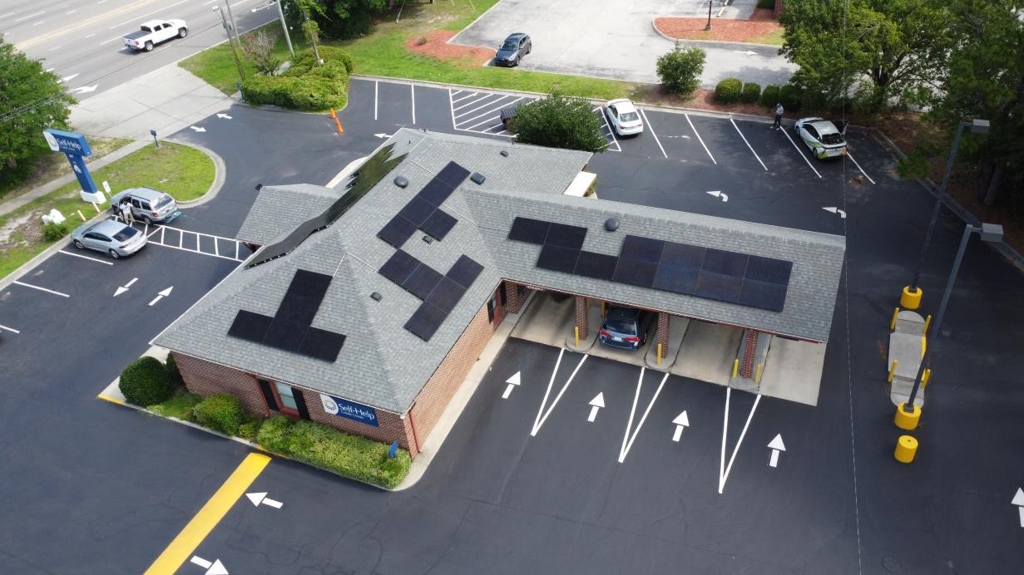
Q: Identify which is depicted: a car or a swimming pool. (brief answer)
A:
car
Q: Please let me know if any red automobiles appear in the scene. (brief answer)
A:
No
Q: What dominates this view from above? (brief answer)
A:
paved ground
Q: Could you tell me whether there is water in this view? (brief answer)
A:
No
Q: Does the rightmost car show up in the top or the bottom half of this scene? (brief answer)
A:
top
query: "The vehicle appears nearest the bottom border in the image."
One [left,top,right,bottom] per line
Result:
[602,305,657,351]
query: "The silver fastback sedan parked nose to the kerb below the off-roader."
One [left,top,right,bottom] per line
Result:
[62,216,144,259]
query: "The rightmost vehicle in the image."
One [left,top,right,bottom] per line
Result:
[796,115,850,155]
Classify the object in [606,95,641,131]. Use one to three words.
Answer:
car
